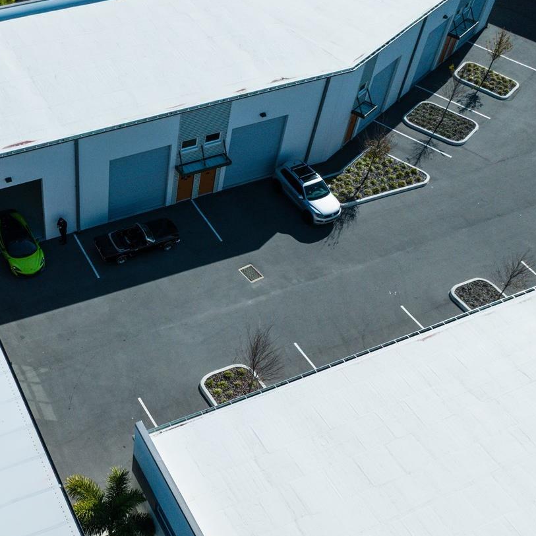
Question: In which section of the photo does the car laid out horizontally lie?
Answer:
left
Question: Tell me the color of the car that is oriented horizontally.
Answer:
black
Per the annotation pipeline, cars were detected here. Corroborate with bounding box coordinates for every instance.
[273,156,342,221]
[94,212,187,259]
[0,208,41,277]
